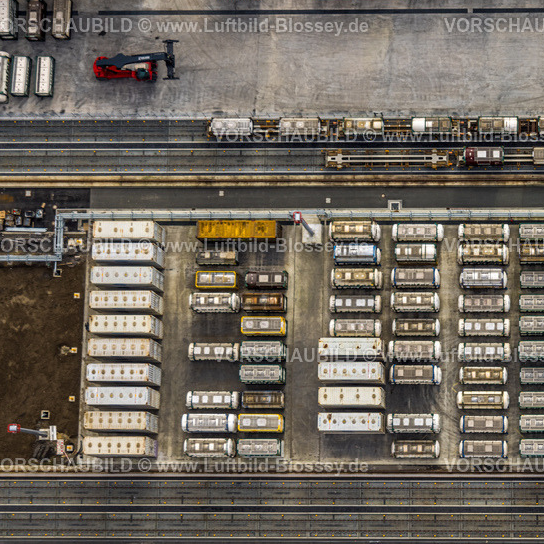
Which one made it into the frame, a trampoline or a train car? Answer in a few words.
train car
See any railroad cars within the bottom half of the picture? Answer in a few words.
No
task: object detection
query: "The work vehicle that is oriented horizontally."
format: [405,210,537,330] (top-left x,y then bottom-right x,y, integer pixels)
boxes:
[93,41,175,84]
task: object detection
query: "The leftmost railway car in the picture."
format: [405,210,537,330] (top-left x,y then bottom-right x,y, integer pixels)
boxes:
[203,119,327,138]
